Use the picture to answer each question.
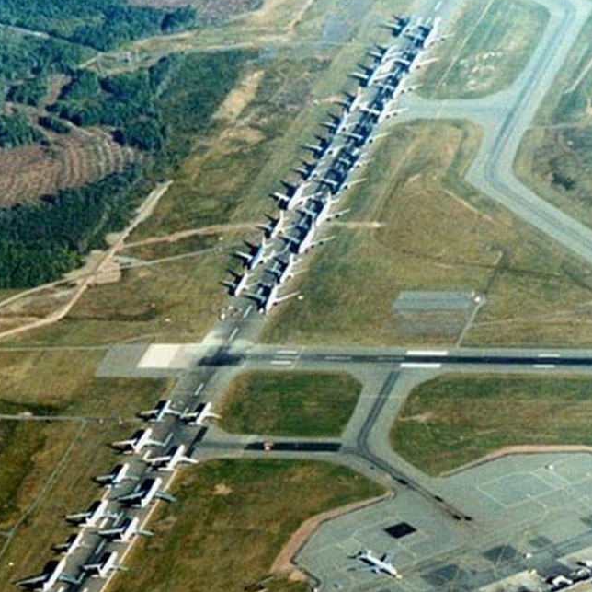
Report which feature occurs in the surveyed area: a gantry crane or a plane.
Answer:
plane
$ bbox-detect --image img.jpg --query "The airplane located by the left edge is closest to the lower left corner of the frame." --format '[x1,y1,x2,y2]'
[20,557,80,587]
